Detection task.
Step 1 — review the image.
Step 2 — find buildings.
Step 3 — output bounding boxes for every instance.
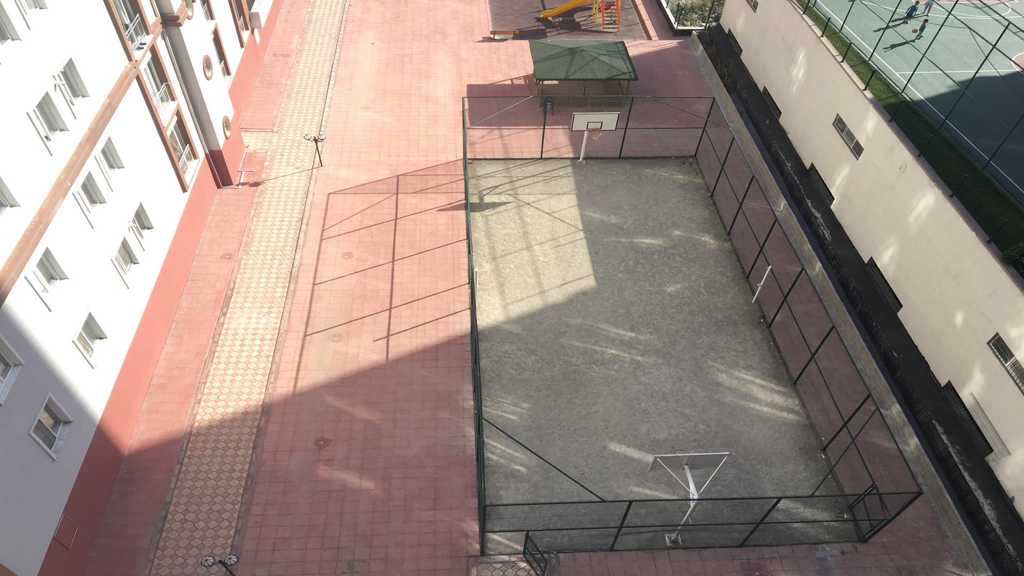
[713,0,1024,576]
[0,0,283,576]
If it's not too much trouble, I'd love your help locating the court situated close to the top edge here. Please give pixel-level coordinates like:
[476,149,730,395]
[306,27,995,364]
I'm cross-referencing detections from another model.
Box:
[804,0,1024,213]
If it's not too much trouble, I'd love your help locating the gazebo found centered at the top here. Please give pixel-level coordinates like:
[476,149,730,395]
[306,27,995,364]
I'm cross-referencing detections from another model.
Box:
[527,40,638,107]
